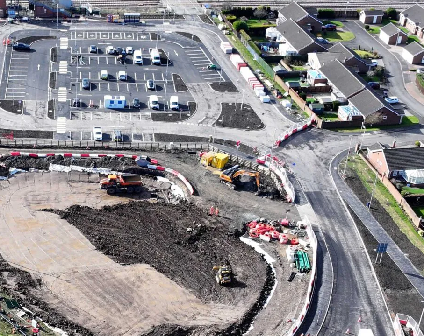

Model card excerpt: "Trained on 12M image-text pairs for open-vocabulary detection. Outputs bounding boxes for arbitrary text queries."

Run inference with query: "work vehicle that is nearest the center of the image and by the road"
[215,163,257,189]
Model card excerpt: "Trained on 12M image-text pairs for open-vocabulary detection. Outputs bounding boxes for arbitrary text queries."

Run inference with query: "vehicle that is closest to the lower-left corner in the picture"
[102,177,144,196]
